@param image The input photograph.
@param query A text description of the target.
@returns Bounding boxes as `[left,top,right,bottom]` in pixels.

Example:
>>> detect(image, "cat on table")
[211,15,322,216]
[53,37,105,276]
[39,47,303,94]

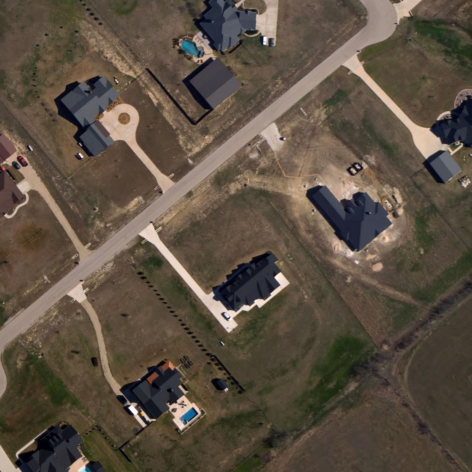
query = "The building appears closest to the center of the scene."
[218,251,284,312]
